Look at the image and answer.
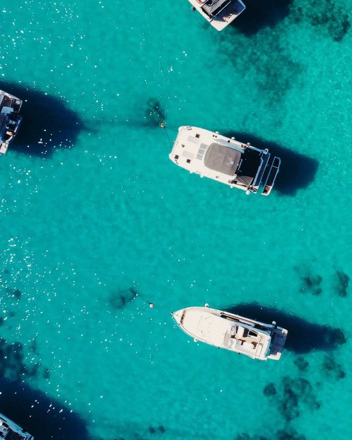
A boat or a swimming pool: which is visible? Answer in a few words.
boat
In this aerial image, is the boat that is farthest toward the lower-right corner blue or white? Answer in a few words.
white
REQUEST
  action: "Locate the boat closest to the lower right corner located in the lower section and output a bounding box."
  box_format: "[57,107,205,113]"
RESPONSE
[153,304,287,360]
